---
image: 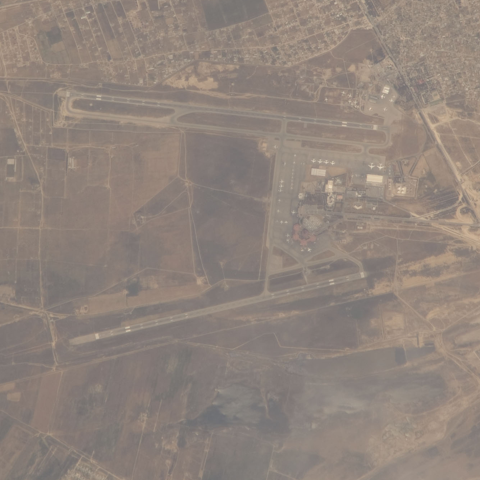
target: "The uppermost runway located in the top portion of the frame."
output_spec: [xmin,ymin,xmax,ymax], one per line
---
[58,90,388,132]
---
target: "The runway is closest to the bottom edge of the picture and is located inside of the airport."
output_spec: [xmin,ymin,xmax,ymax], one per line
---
[69,272,367,345]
